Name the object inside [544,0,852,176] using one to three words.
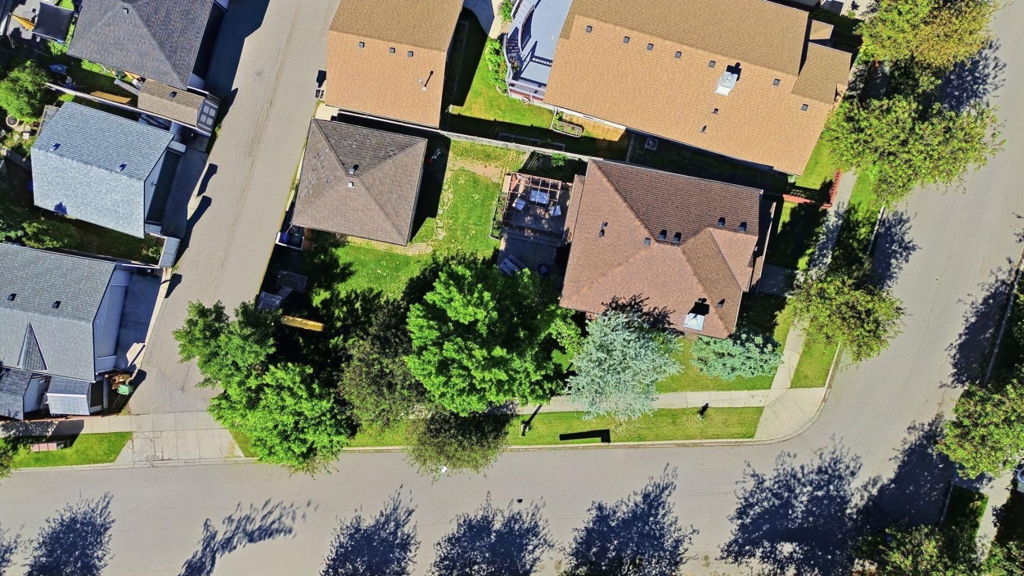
house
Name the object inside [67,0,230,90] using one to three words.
building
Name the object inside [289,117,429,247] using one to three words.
building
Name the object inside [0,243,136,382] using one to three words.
house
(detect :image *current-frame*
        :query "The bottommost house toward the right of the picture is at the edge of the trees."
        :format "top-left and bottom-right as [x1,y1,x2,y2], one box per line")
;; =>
[562,158,776,335]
